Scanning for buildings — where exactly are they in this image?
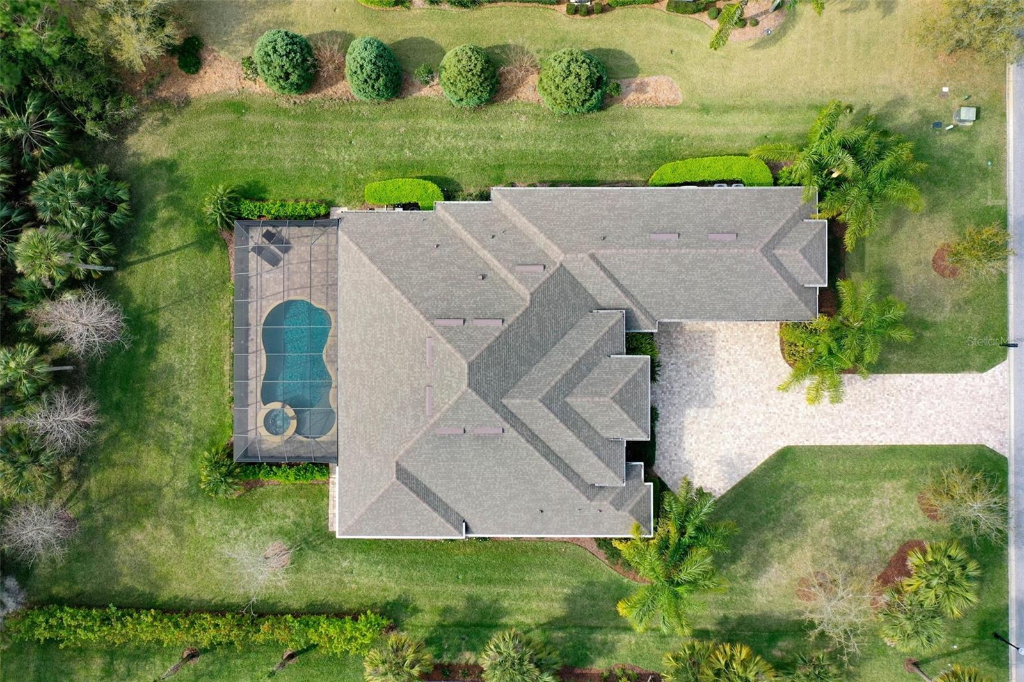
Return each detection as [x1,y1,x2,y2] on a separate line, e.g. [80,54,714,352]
[334,185,829,540]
